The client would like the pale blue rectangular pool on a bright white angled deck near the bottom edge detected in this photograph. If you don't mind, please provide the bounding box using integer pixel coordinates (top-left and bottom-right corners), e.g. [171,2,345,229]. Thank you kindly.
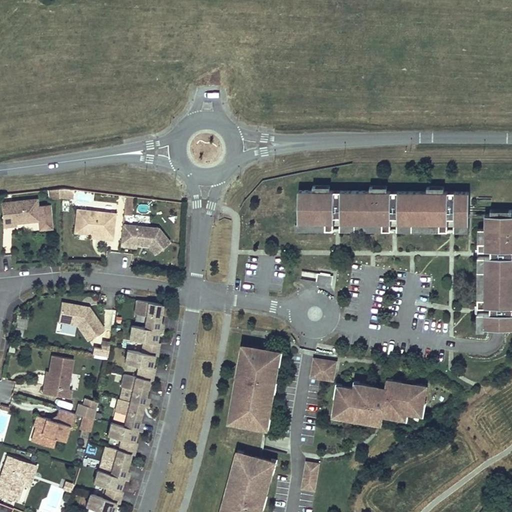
[38,484,64,512]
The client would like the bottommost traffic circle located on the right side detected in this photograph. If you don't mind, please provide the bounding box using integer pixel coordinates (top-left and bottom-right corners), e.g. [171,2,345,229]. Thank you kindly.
[290,288,340,338]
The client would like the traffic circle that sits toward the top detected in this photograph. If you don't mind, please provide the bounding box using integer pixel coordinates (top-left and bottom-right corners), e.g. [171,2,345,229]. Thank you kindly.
[169,111,244,186]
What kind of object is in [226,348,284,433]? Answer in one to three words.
building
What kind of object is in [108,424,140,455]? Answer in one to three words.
house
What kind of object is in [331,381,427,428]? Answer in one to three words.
building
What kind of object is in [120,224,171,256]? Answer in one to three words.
house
